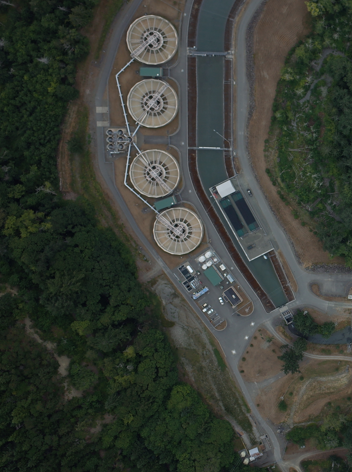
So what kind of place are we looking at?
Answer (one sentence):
This looks like an industrial area.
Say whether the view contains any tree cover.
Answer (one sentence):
Yes, there is tree cover in the image.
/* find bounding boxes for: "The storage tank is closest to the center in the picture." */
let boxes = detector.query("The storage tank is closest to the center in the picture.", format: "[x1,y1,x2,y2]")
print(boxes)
[153,206,205,256]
